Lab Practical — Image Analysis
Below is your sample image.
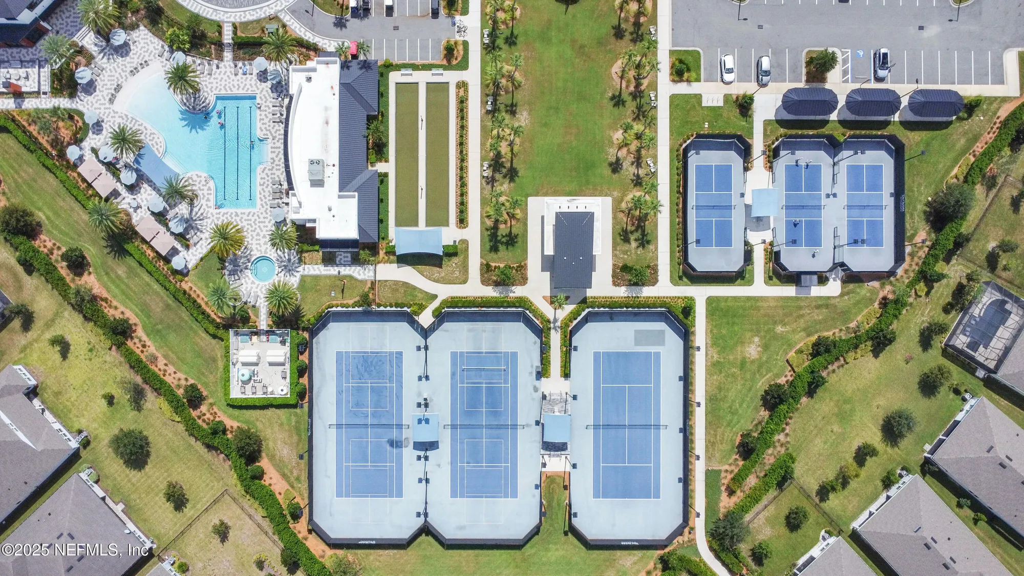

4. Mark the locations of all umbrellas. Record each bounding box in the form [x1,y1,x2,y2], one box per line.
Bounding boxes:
[148,197,164,213]
[267,69,282,83]
[254,56,268,71]
[170,215,186,232]
[171,255,187,270]
[171,53,187,67]
[66,145,84,160]
[75,67,92,84]
[271,208,285,222]
[83,109,101,125]
[120,168,137,185]
[98,145,116,162]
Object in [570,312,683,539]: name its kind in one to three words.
tennis court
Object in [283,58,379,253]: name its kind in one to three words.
building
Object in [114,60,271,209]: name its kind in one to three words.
swimming pool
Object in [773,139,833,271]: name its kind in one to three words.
sports court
